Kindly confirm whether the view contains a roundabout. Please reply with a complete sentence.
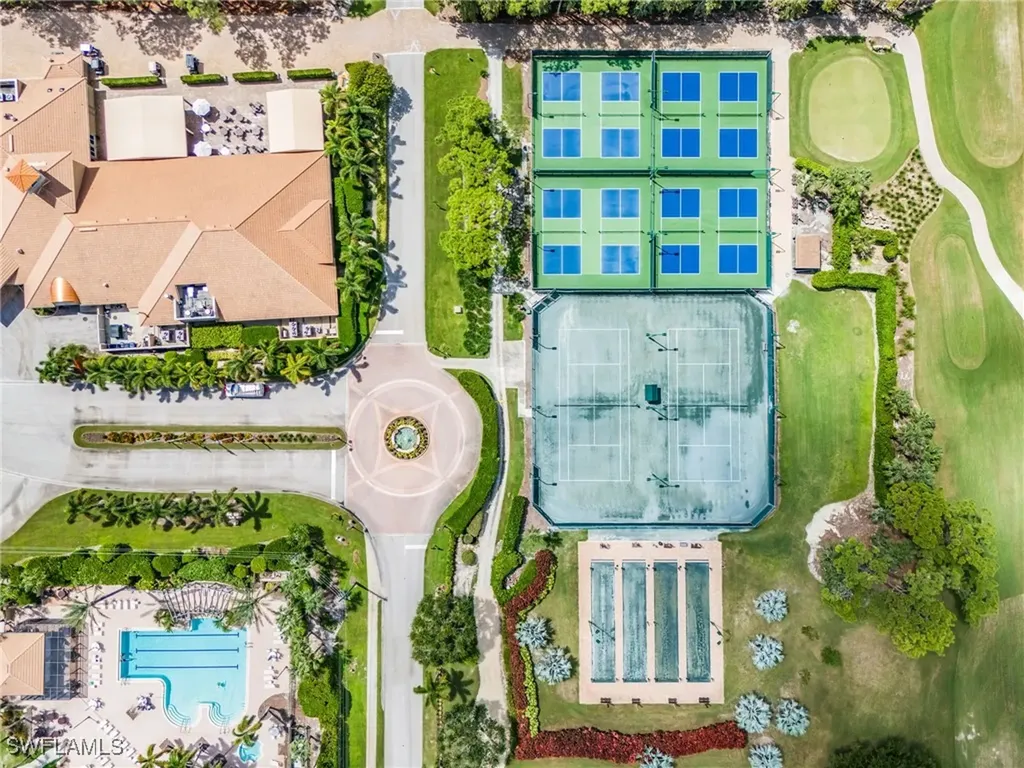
Yes, the photo shows a roundabout.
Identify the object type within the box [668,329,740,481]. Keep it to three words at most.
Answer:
tennis court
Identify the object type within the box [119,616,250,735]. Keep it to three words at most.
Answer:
swimming pool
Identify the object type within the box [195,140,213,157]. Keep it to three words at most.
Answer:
umbrella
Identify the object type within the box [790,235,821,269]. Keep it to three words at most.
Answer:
shed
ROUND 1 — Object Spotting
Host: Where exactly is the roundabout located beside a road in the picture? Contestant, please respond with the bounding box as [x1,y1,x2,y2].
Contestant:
[347,345,484,532]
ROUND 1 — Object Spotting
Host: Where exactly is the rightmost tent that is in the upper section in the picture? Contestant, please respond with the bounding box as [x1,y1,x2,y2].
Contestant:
[266,88,330,157]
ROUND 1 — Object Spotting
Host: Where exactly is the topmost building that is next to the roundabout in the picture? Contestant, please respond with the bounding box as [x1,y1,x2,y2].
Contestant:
[0,54,340,327]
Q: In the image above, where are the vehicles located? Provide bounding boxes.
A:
[90,58,105,77]
[227,382,267,398]
[80,43,100,57]
[185,55,199,74]
[148,61,163,78]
